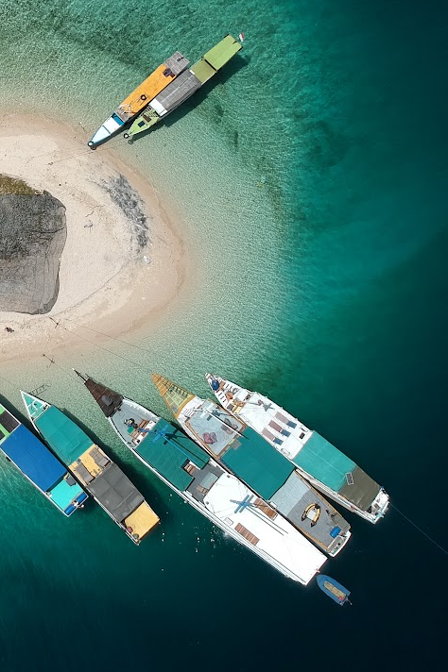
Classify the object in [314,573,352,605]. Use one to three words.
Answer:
boat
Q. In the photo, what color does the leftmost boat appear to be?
blue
